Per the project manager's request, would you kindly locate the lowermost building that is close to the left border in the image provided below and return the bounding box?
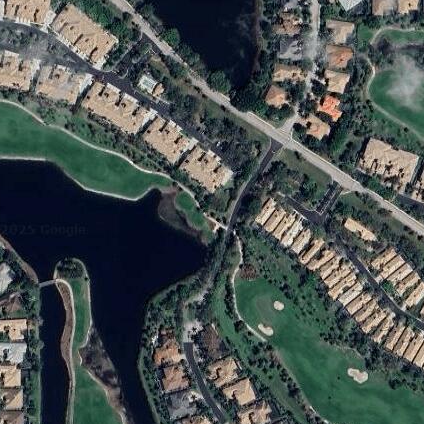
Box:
[1,408,27,424]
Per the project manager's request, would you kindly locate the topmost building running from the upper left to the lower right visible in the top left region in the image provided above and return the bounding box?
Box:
[52,5,116,64]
